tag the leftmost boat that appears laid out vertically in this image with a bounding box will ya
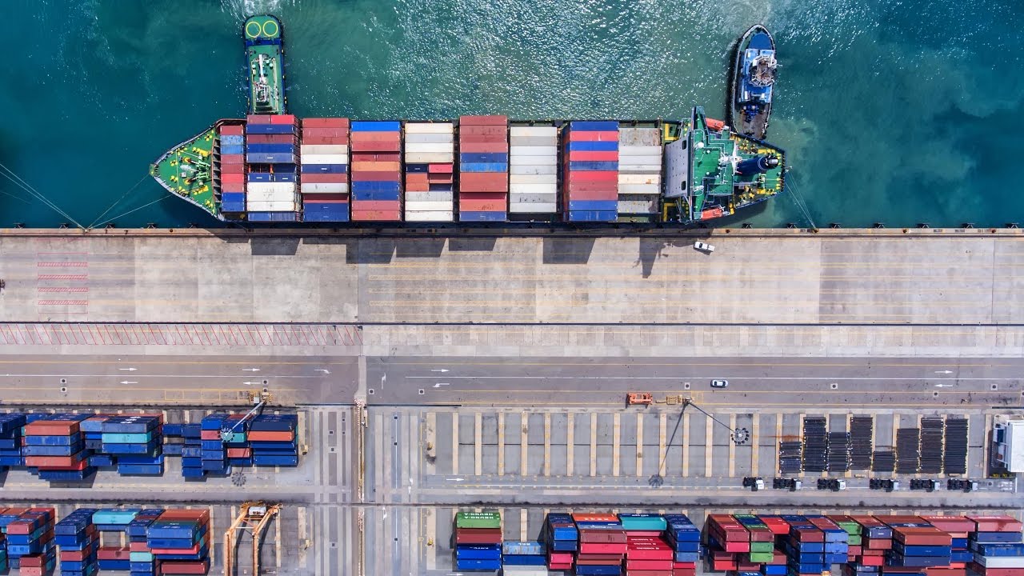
[242,12,287,115]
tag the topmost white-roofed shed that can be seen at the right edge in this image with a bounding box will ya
[986,421,1024,473]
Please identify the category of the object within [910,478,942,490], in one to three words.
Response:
vehicle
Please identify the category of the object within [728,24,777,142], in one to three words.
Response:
boat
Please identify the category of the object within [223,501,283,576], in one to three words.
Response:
container crane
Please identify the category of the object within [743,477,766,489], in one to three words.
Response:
vehicle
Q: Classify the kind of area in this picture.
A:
port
